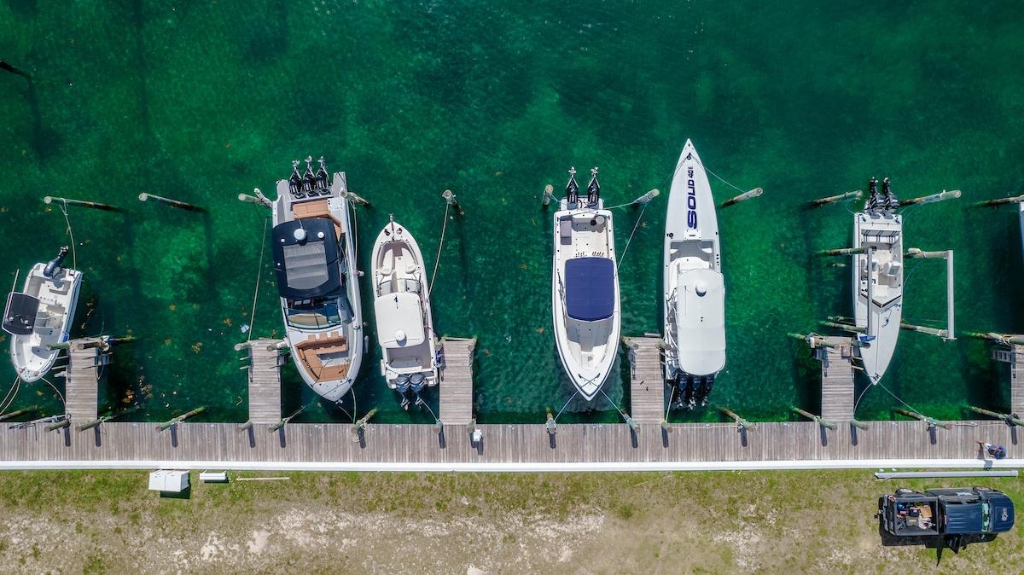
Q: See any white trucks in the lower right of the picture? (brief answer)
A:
No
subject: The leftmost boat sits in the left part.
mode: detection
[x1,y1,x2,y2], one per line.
[2,244,88,382]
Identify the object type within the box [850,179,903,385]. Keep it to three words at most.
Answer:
boat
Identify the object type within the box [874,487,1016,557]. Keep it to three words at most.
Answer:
truck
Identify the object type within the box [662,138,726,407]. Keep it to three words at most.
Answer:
boat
